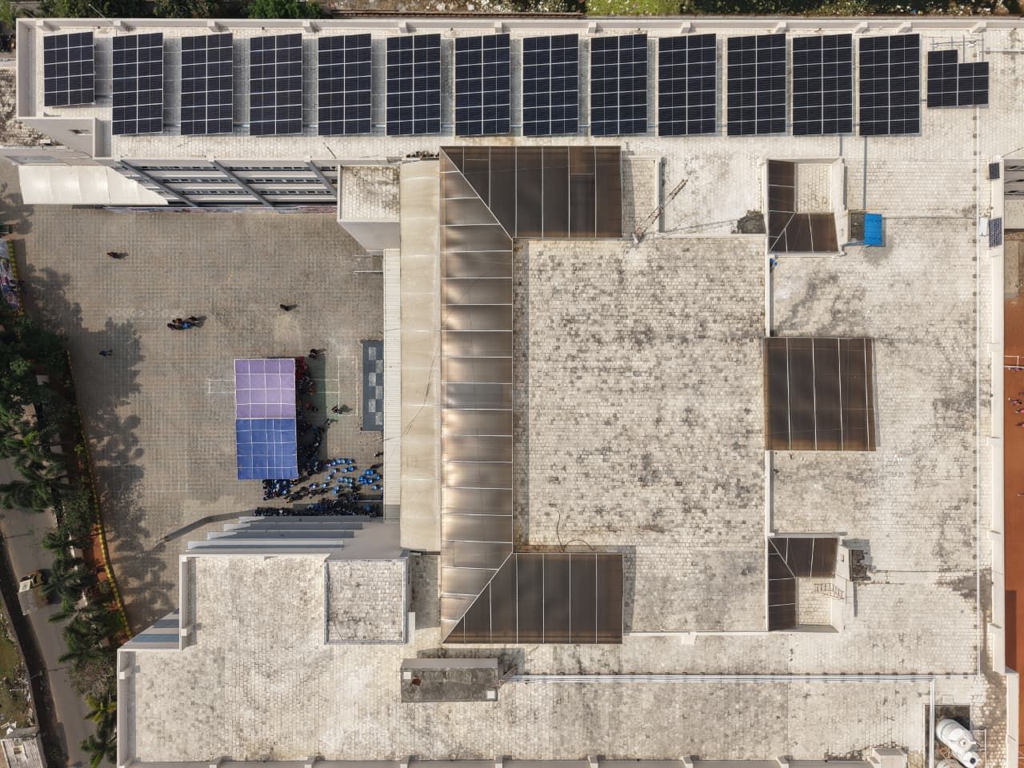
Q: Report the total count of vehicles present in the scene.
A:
1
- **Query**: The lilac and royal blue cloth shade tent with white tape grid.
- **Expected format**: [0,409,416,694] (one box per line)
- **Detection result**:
[235,359,306,479]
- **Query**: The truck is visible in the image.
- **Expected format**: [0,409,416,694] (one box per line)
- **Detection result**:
[24,575,53,619]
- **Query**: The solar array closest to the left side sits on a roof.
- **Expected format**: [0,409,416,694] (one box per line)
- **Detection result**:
[45,32,103,111]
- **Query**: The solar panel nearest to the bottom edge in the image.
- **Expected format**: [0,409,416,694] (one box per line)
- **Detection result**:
[984,217,1002,247]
